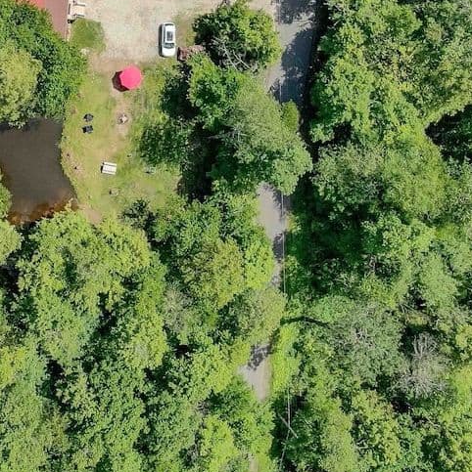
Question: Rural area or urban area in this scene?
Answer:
rural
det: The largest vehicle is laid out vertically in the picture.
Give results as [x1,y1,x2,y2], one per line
[160,22,178,57]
